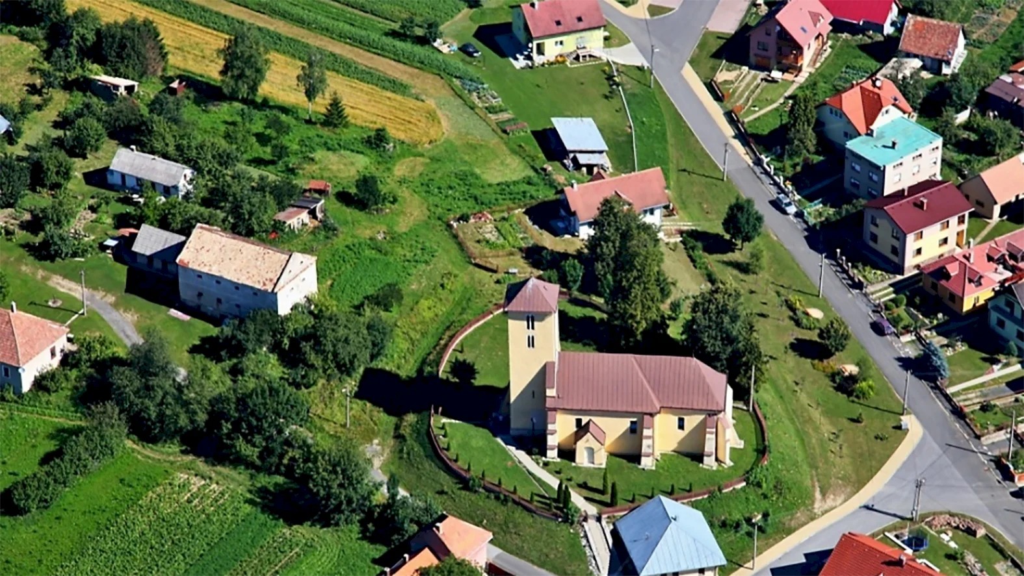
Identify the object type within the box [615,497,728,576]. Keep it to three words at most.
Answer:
house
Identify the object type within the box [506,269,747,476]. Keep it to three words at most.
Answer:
church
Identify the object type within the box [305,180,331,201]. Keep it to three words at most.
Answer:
shed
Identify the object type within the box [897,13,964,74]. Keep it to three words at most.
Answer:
house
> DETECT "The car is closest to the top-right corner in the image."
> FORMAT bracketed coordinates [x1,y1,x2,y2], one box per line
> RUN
[776,192,795,210]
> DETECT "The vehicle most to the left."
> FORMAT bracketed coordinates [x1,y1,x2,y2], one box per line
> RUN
[456,39,480,54]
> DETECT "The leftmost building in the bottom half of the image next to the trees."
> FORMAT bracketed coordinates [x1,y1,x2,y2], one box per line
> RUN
[0,301,66,391]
